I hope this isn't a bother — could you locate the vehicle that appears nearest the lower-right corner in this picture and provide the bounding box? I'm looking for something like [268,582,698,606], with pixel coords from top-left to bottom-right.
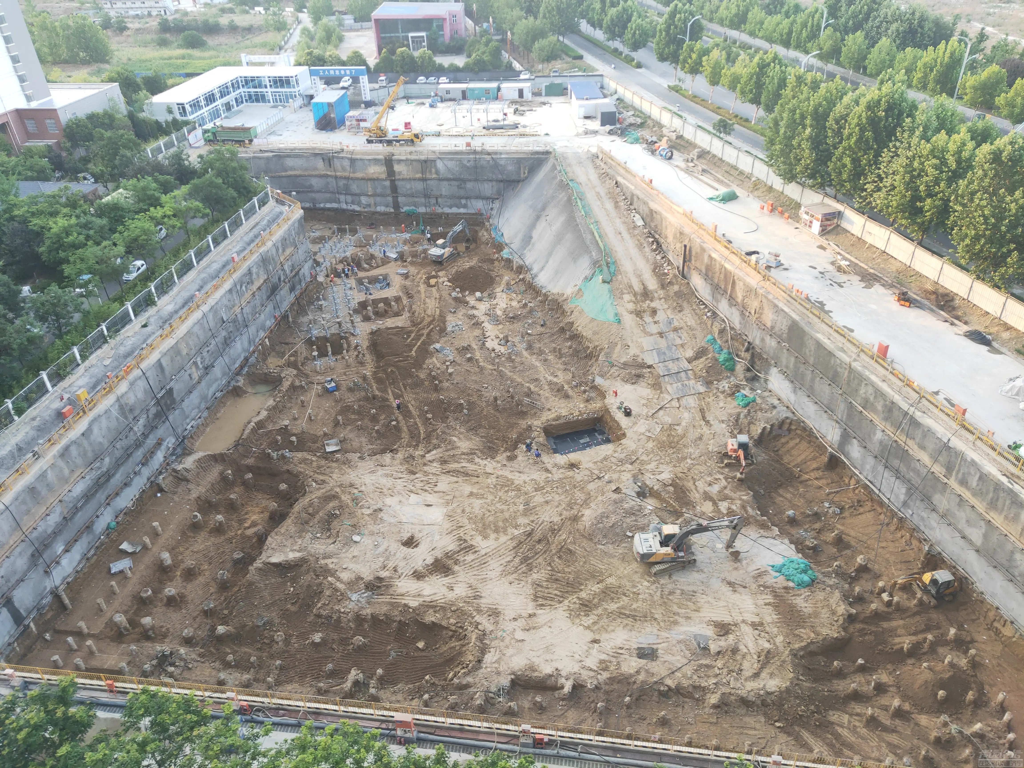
[890,565,975,616]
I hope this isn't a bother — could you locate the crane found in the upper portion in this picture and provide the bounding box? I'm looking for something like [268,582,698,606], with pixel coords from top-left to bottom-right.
[365,77,425,141]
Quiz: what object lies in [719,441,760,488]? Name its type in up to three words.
work vehicle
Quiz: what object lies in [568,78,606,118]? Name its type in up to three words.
house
